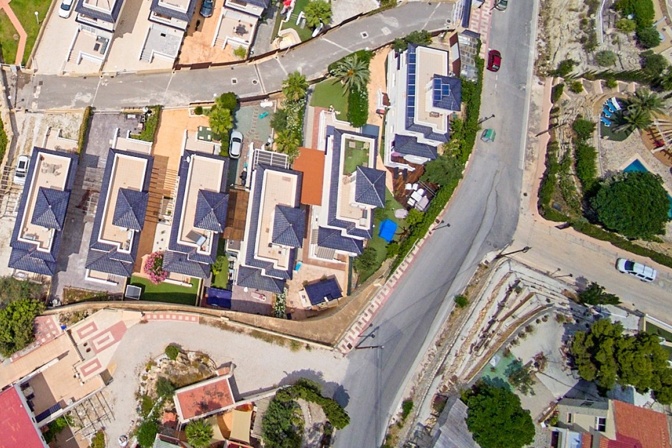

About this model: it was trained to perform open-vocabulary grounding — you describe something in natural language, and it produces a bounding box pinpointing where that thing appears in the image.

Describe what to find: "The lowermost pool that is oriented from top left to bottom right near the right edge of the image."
[618,154,672,227]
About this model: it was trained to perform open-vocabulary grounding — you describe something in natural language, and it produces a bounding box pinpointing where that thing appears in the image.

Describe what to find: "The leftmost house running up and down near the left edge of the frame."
[7,121,81,285]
